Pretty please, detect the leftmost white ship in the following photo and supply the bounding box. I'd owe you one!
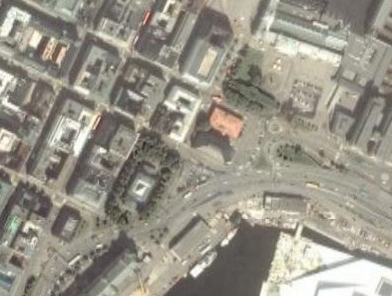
[188,253,216,279]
